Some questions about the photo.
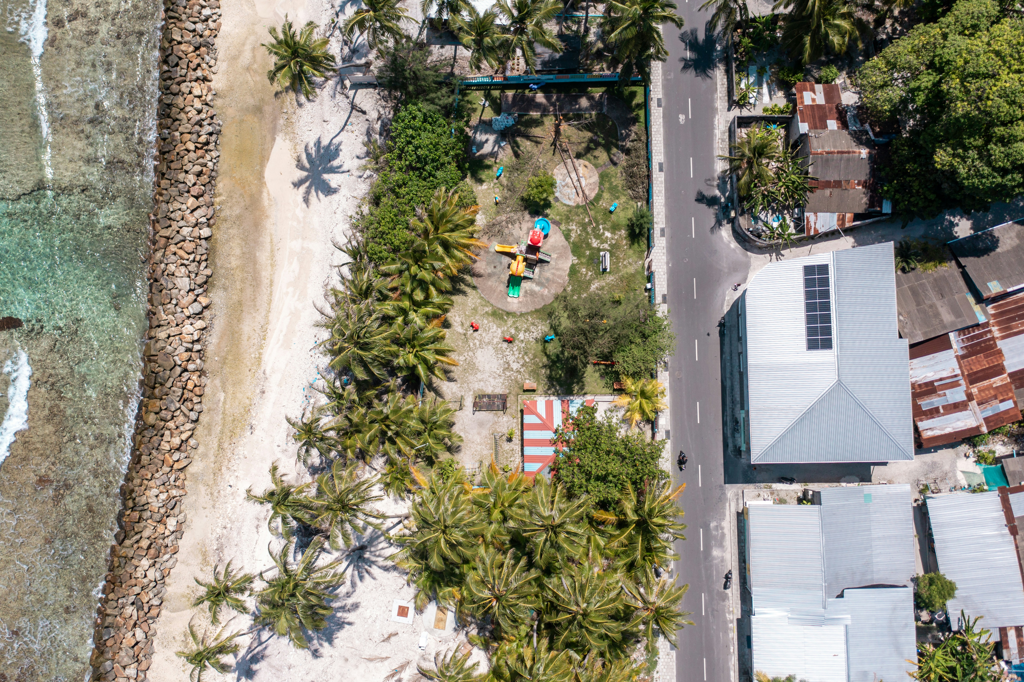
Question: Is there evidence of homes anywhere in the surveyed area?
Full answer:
Yes, looking at the shot, I can spot a home.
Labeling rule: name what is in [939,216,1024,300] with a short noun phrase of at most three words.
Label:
house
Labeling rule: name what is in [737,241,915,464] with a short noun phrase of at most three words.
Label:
house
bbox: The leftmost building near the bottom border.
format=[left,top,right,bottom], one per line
[742,484,918,682]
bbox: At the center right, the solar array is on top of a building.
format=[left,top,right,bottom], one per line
[803,264,833,350]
